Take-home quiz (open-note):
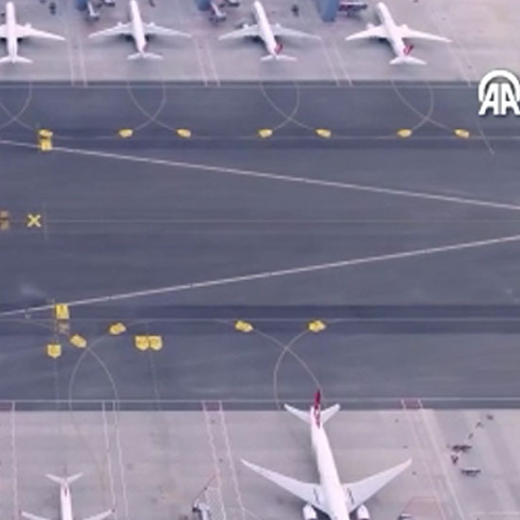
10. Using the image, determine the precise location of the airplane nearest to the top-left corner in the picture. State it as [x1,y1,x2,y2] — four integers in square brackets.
[0,0,65,61]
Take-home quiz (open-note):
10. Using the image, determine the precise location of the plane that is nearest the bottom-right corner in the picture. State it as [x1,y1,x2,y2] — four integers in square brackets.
[242,399,411,520]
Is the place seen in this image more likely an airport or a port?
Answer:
airport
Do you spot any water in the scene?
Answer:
No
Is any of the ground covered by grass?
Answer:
No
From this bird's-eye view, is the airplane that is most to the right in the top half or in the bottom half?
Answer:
top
